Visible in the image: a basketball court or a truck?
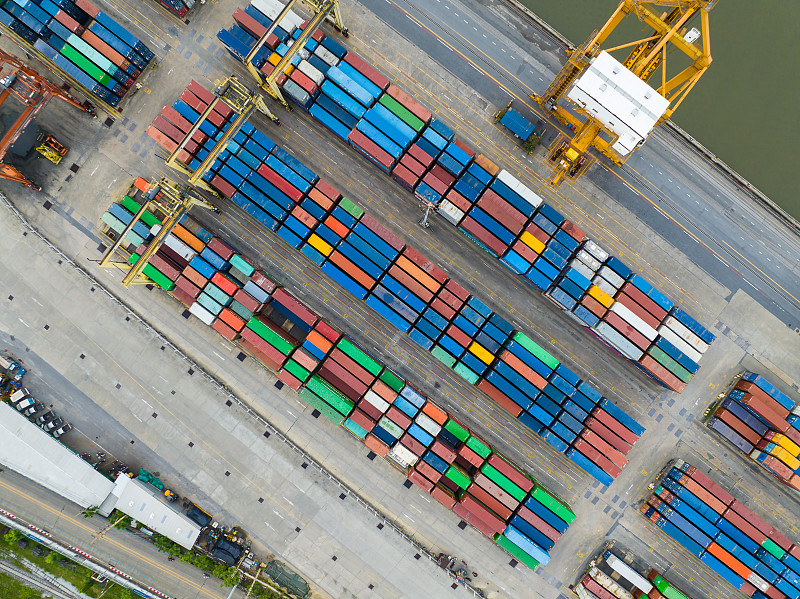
truck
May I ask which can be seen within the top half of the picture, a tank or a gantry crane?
gantry crane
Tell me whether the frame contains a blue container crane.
No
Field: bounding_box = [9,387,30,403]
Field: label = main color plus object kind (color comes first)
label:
white vehicle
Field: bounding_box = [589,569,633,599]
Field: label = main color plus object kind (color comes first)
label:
white shipping container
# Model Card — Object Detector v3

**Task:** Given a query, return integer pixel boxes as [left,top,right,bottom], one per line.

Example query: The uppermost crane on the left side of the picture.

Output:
[242,0,352,113]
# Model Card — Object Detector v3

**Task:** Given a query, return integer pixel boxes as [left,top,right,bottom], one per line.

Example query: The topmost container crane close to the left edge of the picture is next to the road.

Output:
[0,59,102,197]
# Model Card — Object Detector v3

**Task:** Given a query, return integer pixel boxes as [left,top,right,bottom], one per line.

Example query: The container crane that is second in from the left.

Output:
[96,173,223,291]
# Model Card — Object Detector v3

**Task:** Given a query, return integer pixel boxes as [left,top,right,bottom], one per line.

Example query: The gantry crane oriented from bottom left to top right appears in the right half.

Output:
[529,0,723,194]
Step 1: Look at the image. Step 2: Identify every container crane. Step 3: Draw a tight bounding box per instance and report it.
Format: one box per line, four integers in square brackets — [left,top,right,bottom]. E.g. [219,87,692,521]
[0,59,102,197]
[96,173,223,291]
[163,66,284,202]
[529,0,723,194]
[242,0,352,113]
